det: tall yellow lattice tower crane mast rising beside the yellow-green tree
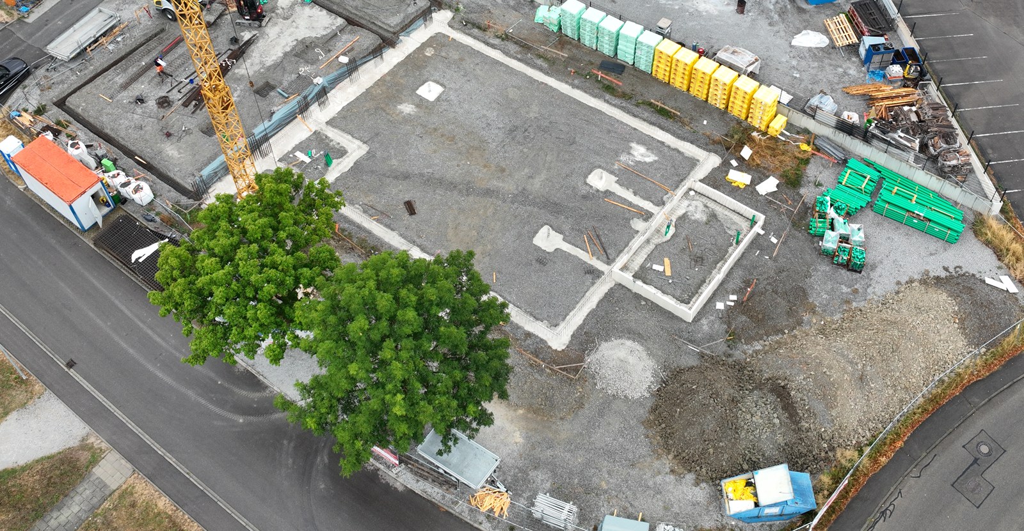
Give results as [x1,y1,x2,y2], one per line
[169,0,264,202]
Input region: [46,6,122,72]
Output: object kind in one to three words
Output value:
trailer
